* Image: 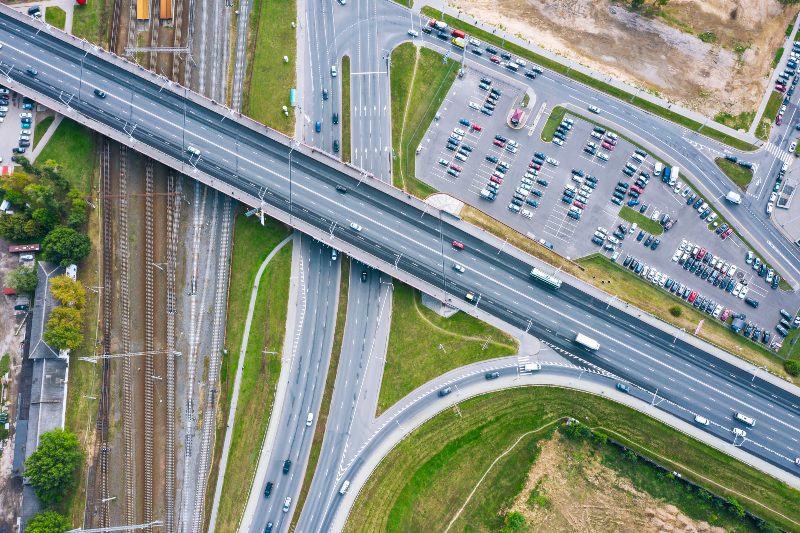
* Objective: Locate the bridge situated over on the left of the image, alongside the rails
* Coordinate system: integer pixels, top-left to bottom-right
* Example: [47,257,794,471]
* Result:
[0,2,460,318]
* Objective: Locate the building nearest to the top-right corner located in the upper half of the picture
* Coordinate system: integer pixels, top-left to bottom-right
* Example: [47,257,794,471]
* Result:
[772,177,800,211]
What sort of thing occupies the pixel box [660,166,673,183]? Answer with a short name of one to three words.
vehicle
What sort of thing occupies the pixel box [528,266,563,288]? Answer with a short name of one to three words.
bus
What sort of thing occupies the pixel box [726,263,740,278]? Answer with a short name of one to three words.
vehicle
